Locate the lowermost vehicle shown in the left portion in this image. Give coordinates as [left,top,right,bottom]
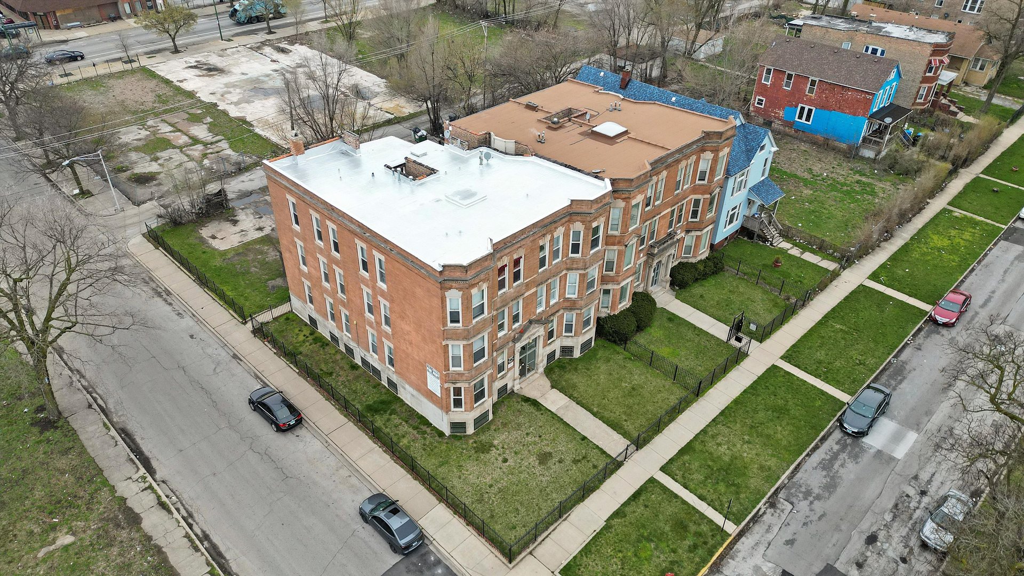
[355,491,429,560]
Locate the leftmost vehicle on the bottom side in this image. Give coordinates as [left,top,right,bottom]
[247,387,306,438]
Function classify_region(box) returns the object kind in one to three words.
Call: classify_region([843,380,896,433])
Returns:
car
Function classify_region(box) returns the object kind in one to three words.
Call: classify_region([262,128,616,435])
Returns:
building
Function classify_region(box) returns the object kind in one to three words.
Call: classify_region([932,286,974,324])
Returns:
car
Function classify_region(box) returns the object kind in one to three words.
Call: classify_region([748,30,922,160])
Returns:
house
